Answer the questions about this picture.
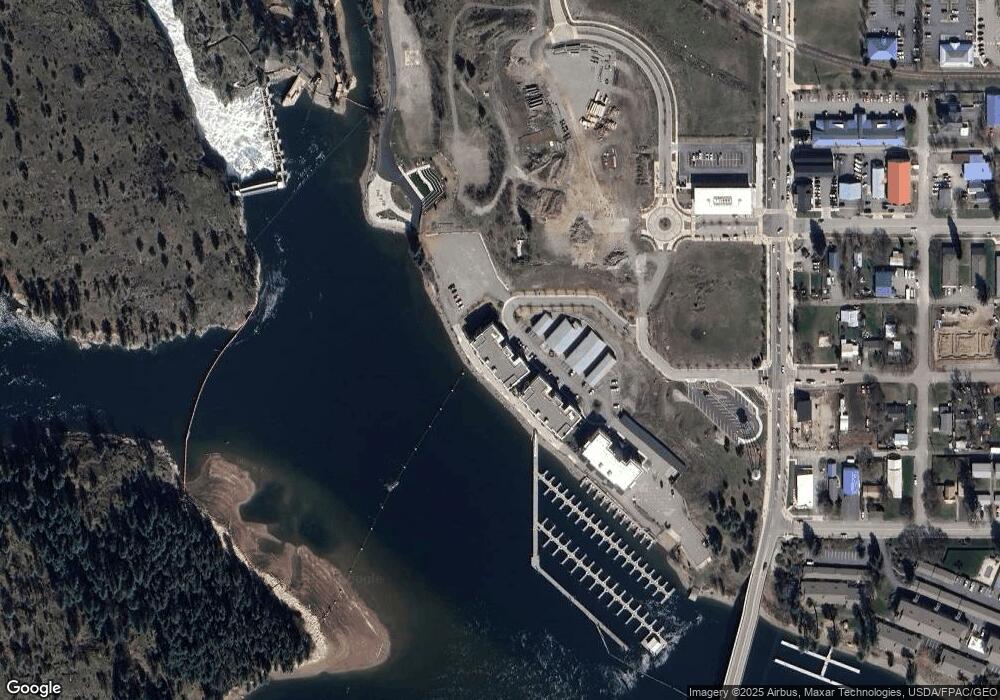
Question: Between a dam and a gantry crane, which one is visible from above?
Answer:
dam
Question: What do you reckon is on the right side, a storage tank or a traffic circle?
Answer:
traffic circle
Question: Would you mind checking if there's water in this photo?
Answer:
Yes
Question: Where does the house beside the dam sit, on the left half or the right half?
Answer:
left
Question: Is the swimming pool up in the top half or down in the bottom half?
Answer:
bottom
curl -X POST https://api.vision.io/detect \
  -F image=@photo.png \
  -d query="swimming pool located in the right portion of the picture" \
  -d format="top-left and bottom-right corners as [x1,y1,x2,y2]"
[977,556,1000,587]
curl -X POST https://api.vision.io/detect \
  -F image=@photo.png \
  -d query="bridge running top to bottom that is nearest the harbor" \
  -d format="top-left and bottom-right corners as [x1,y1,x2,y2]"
[722,539,776,700]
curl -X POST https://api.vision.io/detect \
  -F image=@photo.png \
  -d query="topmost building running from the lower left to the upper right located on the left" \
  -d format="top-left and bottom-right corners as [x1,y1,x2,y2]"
[282,75,308,107]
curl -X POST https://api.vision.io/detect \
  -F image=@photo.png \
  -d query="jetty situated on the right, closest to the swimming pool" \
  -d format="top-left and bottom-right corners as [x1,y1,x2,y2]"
[774,640,866,697]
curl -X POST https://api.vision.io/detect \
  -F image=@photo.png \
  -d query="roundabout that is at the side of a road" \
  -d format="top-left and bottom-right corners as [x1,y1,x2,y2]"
[641,198,691,253]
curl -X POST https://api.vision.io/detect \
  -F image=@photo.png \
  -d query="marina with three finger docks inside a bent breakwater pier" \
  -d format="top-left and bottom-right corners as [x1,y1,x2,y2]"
[531,429,676,649]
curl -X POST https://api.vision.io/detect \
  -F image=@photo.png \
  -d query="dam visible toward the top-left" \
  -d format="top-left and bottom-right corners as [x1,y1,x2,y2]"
[232,85,291,198]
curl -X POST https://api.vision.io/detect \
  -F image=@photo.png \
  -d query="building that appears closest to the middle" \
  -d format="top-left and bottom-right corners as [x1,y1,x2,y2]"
[471,326,529,390]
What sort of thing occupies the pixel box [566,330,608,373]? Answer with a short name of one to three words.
shed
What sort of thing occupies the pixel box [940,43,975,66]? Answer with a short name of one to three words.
building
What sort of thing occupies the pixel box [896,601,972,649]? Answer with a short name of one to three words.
house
